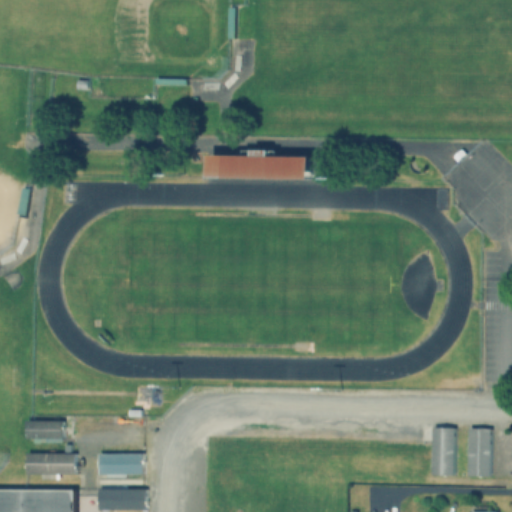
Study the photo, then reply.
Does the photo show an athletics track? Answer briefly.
Yes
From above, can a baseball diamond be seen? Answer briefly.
Yes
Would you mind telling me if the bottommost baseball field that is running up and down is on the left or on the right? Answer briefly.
left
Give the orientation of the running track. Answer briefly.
horizontally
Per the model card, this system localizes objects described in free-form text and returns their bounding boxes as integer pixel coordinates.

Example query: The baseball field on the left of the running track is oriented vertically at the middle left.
[0,174,25,264]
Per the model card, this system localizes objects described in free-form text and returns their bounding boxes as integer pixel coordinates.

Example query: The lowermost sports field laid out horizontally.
[62,207,450,358]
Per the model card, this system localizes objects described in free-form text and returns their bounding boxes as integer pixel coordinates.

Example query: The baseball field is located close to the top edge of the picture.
[114,0,234,76]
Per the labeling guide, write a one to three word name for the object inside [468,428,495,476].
building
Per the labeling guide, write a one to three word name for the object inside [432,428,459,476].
building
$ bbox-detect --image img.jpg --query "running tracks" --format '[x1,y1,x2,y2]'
[37,182,474,383]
